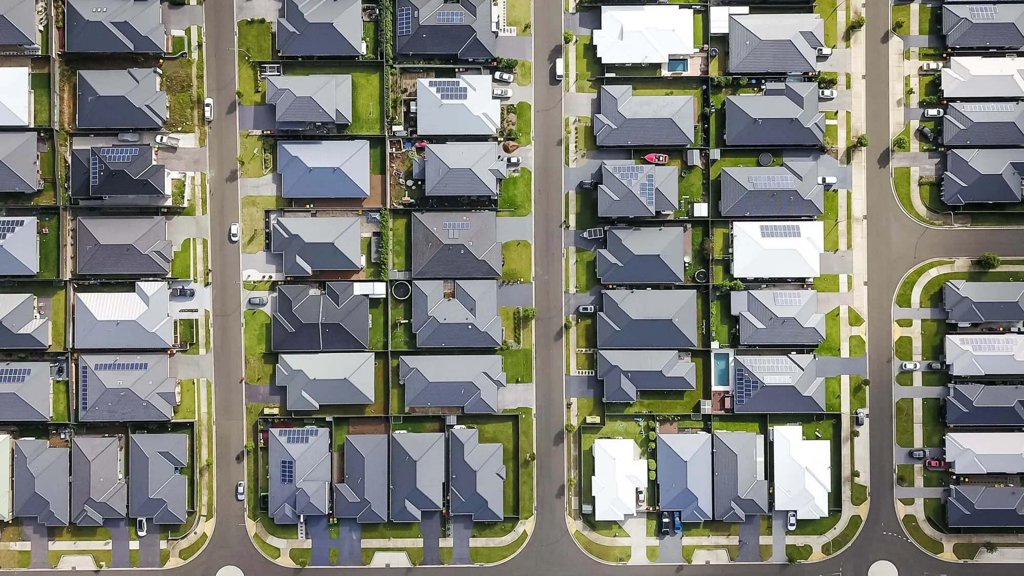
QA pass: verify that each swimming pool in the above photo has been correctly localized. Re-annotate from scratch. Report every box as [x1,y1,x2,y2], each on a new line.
[667,58,689,72]
[713,353,730,387]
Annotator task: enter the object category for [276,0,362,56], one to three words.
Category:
house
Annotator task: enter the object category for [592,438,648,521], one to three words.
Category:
house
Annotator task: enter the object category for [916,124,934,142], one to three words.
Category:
car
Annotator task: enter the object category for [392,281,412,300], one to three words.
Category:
trampoline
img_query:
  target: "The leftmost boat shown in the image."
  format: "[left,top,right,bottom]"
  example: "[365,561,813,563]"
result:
[260,65,280,77]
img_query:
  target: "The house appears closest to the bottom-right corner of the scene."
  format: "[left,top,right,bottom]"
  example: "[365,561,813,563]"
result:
[943,484,1024,527]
